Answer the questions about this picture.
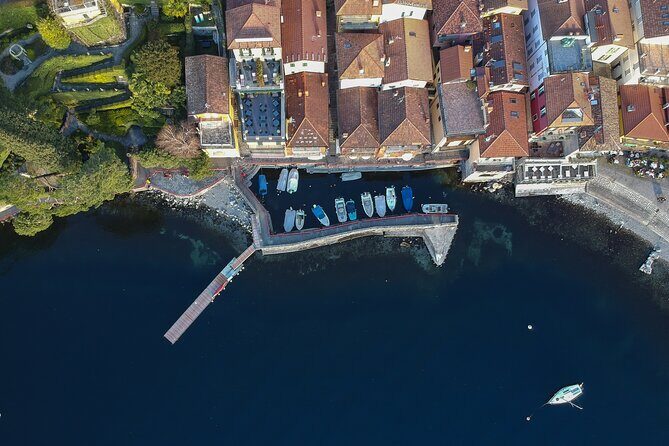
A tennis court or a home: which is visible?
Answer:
home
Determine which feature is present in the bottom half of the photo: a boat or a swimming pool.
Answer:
boat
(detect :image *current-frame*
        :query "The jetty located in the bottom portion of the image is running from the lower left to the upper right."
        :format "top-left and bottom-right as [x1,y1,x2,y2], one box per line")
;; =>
[165,246,257,343]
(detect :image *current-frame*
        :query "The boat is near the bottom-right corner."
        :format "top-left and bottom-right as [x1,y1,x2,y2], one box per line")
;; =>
[548,383,583,407]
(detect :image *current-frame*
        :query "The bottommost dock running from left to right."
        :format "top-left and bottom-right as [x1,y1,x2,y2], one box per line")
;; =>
[262,214,461,268]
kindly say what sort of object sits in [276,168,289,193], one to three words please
boat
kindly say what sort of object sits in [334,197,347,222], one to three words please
boat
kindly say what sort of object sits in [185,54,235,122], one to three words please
house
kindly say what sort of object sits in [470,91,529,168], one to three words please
house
